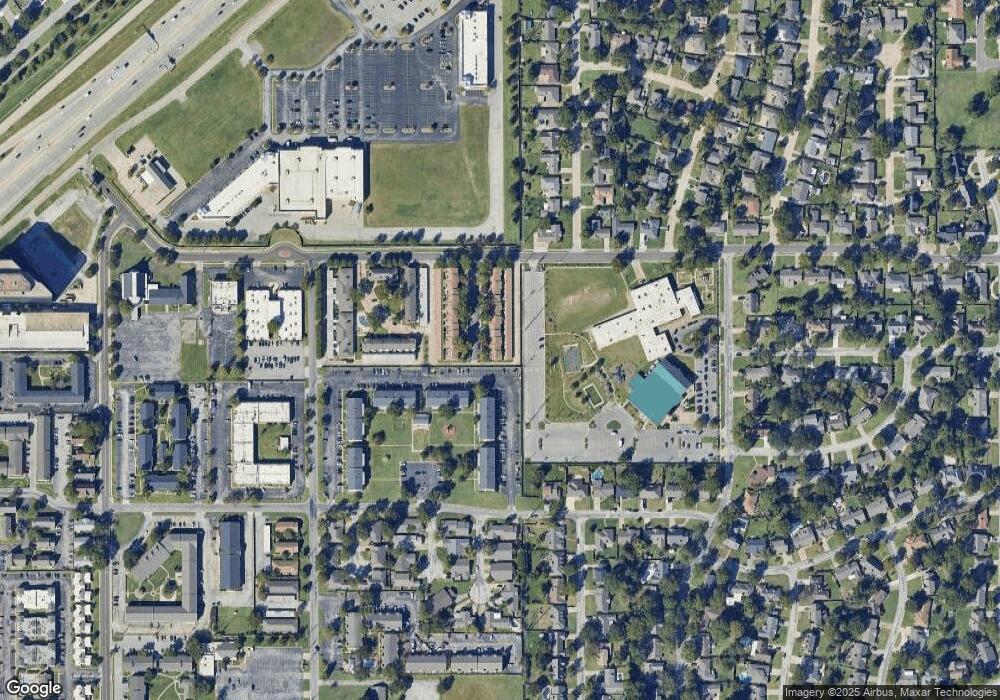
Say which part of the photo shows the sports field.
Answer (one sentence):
The sports field sits in the center section of the image.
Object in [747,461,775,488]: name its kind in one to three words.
house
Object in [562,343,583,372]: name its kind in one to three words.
basketball court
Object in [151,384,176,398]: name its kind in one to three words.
building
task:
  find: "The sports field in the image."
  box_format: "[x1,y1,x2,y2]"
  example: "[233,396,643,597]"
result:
[548,270,630,328]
